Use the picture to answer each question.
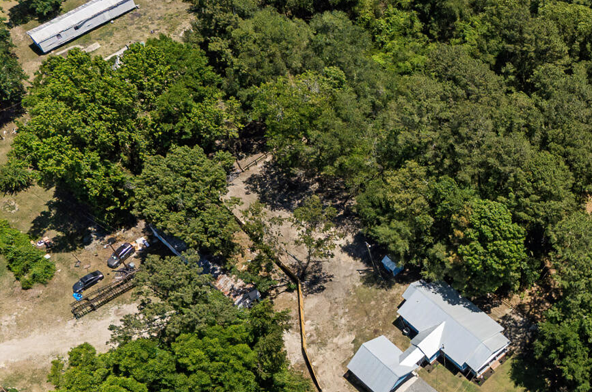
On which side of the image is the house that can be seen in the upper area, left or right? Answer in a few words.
left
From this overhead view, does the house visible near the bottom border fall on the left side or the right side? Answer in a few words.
right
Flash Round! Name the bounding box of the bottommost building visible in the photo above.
[346,277,511,392]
